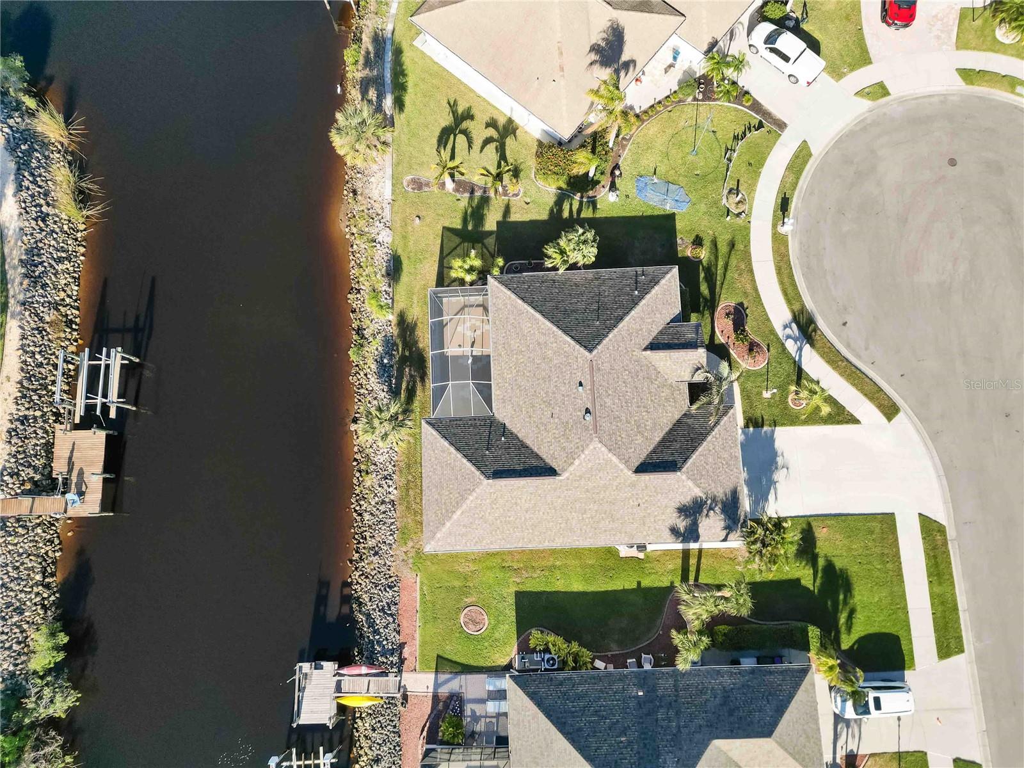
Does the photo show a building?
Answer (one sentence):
Yes, you can see a building in this photo.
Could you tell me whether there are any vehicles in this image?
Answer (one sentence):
Yes, the photo shows a vehicle.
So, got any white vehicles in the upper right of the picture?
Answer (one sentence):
Yes, a white vehicle is visible in the upper right of the picture.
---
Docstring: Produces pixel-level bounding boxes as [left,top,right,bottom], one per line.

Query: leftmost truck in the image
[745,19,832,88]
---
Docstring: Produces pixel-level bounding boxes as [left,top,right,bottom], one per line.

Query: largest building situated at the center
[420,267,748,554]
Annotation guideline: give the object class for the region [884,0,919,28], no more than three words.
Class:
car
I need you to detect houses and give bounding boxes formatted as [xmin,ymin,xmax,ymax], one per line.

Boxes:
[420,267,748,554]
[420,661,824,768]
[392,0,761,147]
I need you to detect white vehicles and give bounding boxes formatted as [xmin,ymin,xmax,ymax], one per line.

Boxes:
[745,19,832,88]
[833,681,918,724]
